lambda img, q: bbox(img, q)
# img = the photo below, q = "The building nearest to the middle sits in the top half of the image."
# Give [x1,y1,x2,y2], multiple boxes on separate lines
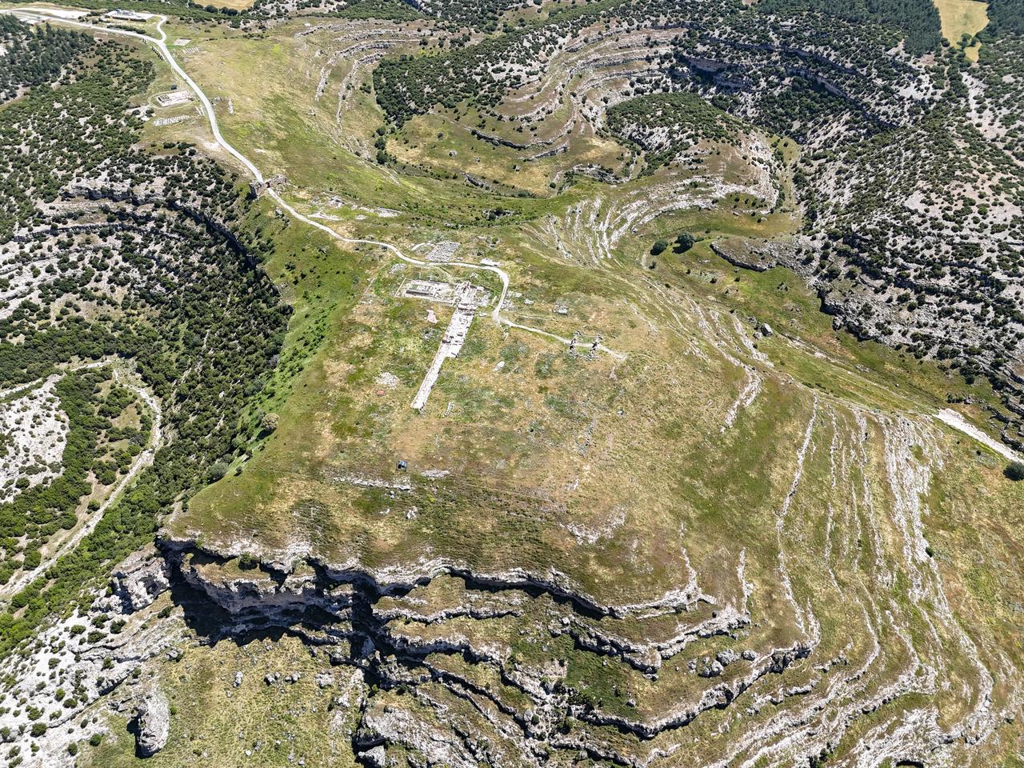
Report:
[456,281,490,309]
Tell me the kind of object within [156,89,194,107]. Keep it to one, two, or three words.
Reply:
building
